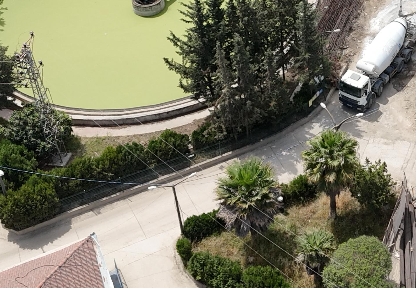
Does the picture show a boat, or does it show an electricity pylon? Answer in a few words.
electricity pylon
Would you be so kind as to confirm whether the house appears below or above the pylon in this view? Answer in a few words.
below it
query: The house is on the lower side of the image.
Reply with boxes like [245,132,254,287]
[0,233,105,288]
